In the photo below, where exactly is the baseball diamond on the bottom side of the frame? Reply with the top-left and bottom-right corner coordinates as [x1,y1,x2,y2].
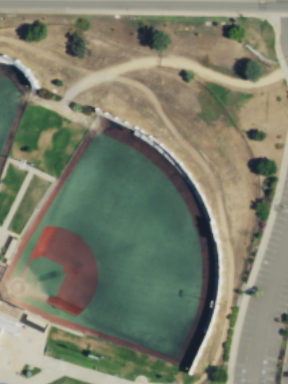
[1,110,218,374]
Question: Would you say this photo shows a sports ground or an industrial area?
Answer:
sports ground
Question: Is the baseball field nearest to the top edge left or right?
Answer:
left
